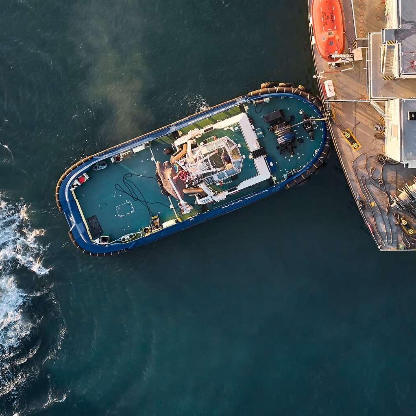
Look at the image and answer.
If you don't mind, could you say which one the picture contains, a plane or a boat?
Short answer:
boat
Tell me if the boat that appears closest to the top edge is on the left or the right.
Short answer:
right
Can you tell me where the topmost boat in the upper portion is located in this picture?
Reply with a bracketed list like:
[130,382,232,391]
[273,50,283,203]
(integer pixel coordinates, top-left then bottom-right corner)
[310,0,347,63]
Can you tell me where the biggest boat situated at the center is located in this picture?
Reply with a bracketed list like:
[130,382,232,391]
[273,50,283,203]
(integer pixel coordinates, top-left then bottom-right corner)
[56,82,334,256]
